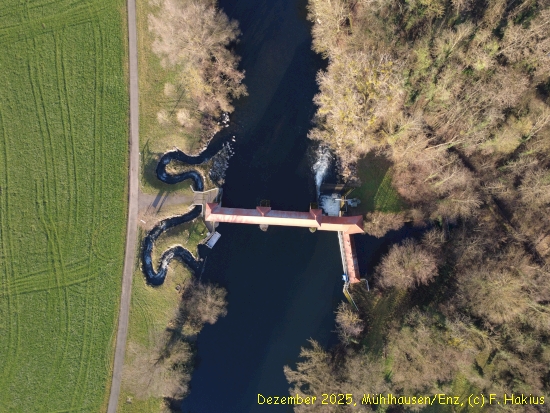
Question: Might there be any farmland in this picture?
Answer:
Yes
